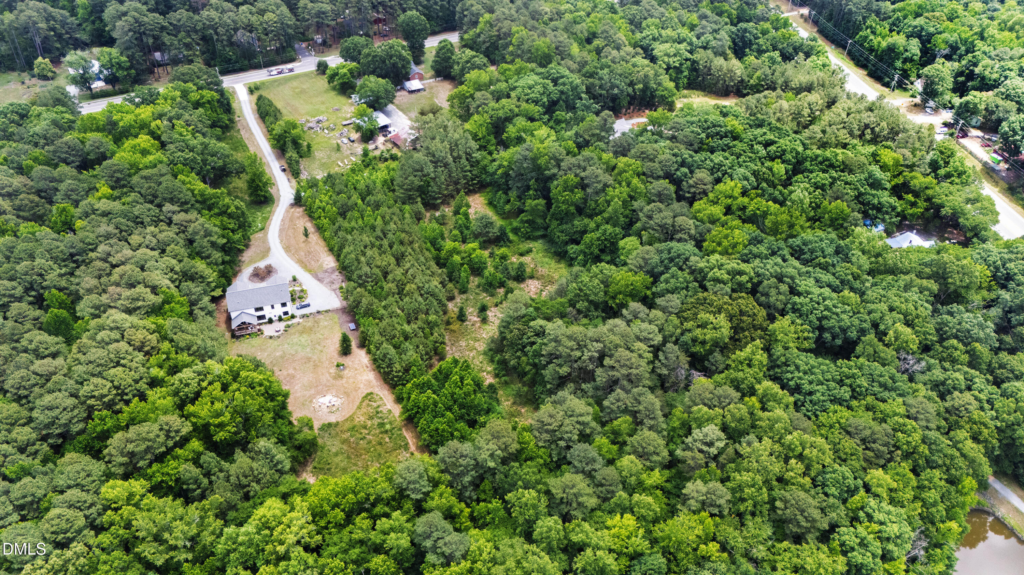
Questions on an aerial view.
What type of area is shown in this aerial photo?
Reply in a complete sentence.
The area seen from above is a forest.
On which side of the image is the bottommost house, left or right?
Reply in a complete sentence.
The bottommost house sits on the left side.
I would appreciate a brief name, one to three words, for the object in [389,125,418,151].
barn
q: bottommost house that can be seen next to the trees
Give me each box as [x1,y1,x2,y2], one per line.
[225,274,292,336]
